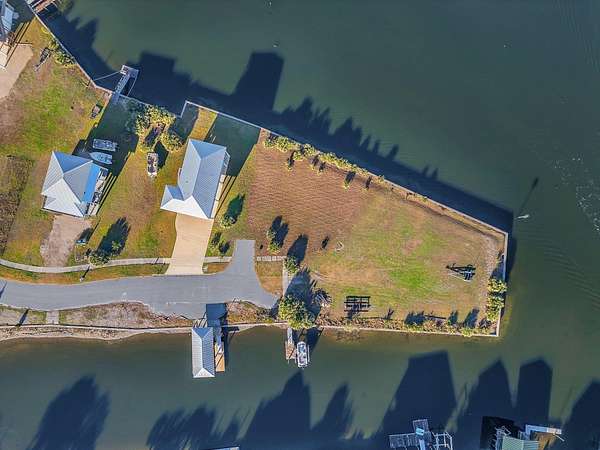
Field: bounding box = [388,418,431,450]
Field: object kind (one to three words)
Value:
pier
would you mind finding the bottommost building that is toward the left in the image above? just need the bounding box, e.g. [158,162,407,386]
[192,327,216,378]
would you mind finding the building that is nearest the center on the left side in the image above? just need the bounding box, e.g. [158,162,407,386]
[159,139,236,219]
